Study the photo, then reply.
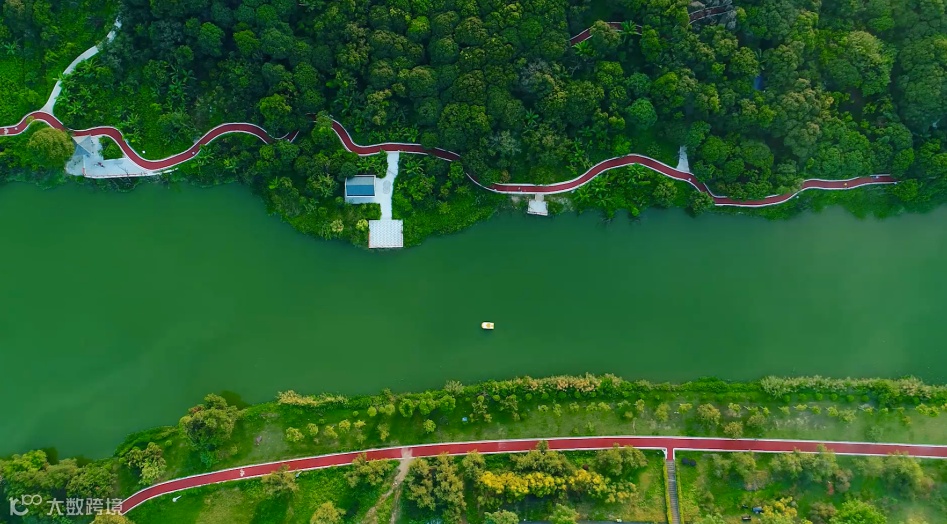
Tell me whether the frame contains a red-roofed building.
No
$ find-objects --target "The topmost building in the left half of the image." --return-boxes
[72,137,95,156]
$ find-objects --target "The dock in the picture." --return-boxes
[527,196,548,215]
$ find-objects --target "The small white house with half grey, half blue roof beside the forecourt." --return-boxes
[345,175,377,198]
